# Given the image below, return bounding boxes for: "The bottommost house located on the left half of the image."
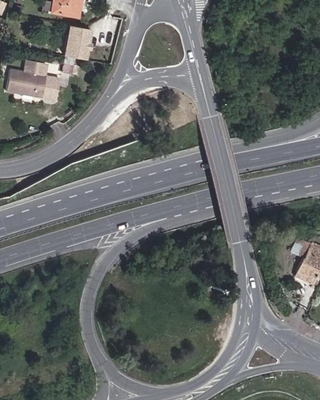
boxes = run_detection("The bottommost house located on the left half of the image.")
[6,60,68,104]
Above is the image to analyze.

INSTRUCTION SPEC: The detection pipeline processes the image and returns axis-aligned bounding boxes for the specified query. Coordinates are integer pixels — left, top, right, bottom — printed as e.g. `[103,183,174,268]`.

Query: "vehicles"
[106,32,112,44]
[116,224,128,230]
[249,278,256,288]
[187,50,194,62]
[91,36,96,46]
[198,163,208,170]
